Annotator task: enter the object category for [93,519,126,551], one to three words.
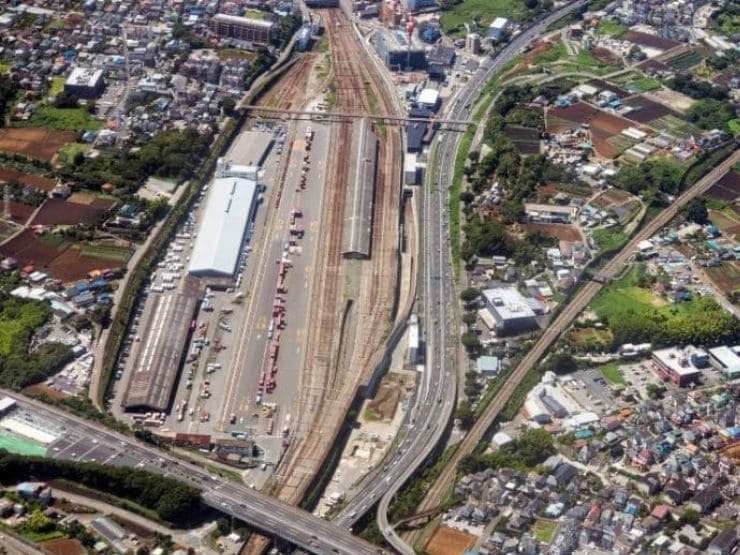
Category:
shed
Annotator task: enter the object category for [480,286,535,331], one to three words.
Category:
building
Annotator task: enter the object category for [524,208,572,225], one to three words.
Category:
building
